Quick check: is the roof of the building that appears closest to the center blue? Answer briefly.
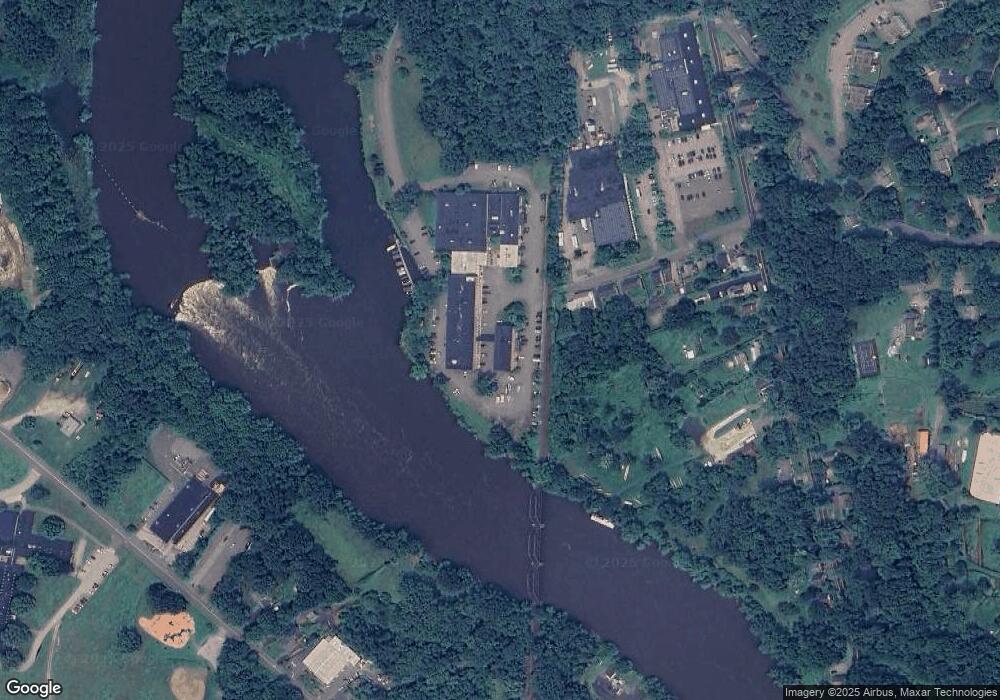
Yes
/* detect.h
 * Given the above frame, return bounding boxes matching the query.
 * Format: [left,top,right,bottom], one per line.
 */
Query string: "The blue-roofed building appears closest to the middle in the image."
[494,323,517,370]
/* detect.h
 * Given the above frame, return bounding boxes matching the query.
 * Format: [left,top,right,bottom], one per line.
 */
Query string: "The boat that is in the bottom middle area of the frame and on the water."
[590,515,614,528]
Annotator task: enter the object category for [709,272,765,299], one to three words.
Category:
house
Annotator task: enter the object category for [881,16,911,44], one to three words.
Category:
house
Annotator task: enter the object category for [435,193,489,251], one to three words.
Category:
building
